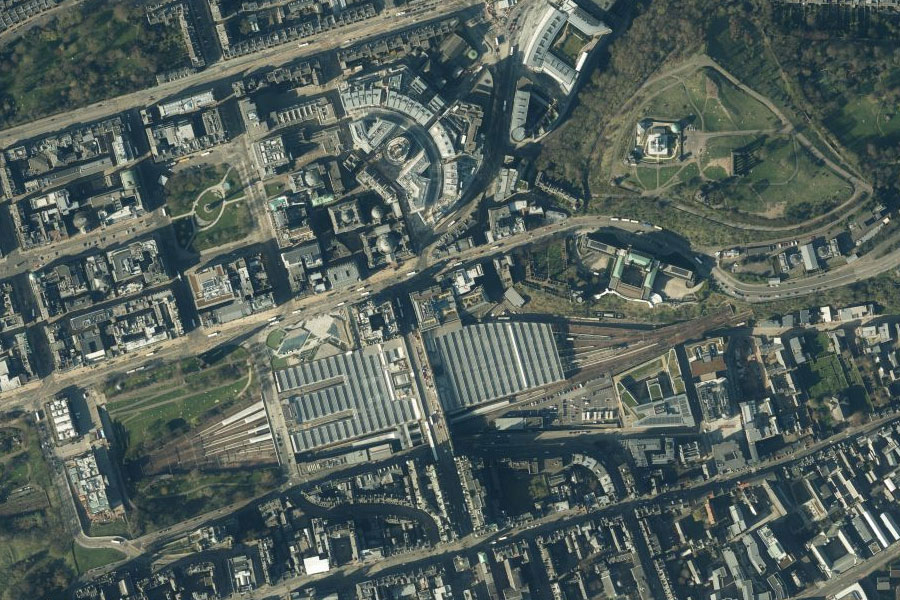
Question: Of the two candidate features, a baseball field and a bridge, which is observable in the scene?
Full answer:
Of the two, only a bridge appears.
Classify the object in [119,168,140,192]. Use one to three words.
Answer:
building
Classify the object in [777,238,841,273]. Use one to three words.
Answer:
building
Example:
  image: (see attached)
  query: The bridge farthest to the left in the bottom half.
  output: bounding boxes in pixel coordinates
[261,383,292,473]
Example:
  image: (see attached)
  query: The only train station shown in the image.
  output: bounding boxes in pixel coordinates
[166,316,657,470]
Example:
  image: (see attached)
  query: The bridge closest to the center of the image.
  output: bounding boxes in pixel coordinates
[407,325,453,452]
